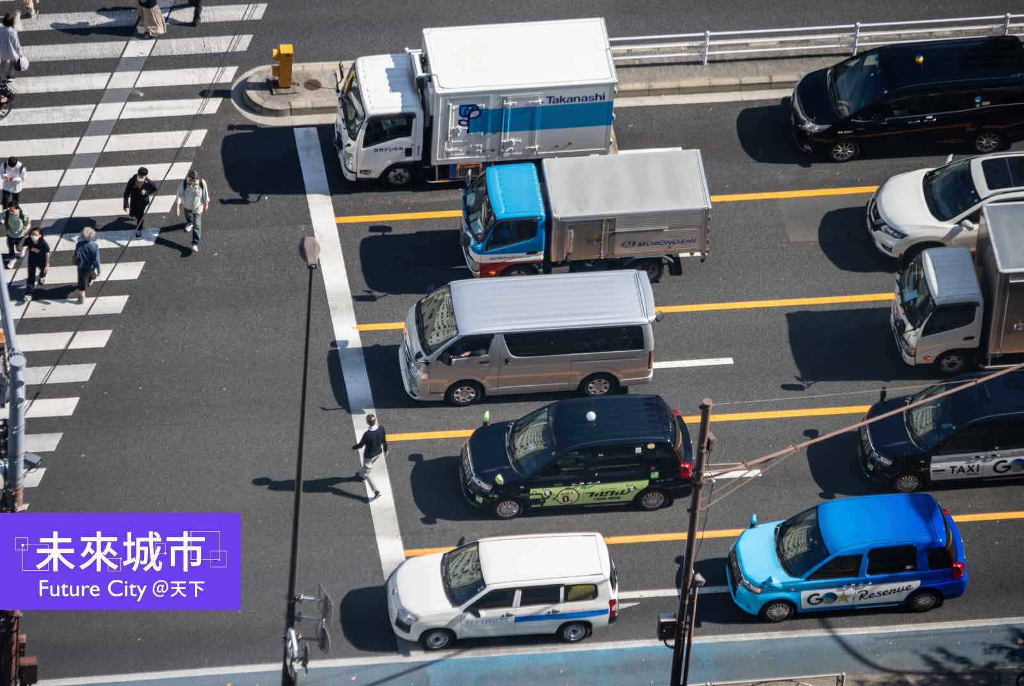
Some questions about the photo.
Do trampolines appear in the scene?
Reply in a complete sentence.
No, no trampoline can be seen from above.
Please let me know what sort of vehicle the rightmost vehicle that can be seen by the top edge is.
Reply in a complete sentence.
The rightmost vehicle that can be seen by the top edge in the image is a truck.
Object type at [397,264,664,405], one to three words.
vehicle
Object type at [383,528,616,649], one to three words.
car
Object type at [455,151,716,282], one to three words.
truck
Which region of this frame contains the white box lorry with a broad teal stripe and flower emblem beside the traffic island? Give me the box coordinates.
[332,16,620,194]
